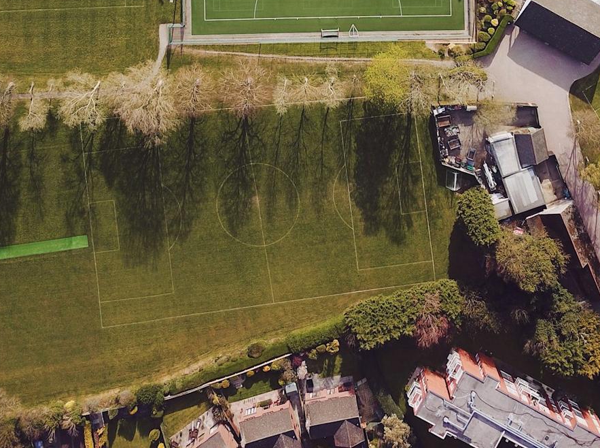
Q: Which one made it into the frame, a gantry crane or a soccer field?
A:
soccer field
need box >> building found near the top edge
[513,0,600,63]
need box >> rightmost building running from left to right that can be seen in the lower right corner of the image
[412,352,600,448]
